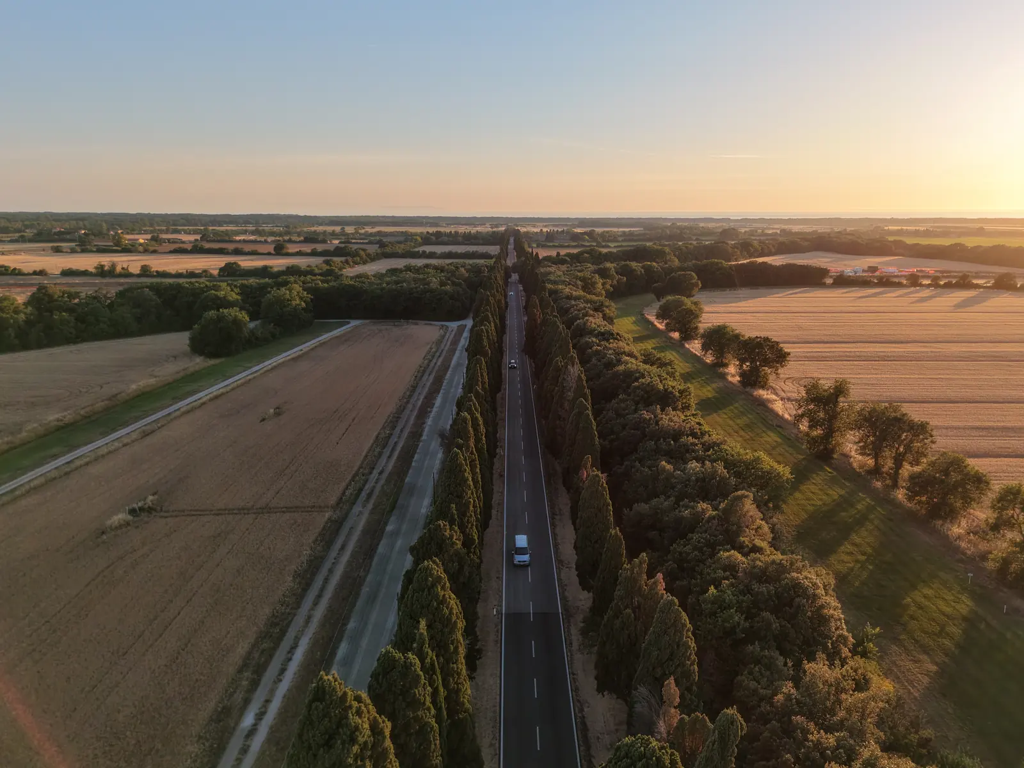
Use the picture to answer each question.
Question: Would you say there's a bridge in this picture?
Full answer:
No, the photo shows no bridge.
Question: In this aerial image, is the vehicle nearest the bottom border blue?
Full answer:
Yes, the vehicle nearest the bottom border is indeed blue.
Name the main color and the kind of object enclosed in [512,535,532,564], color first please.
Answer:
blue vehicle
